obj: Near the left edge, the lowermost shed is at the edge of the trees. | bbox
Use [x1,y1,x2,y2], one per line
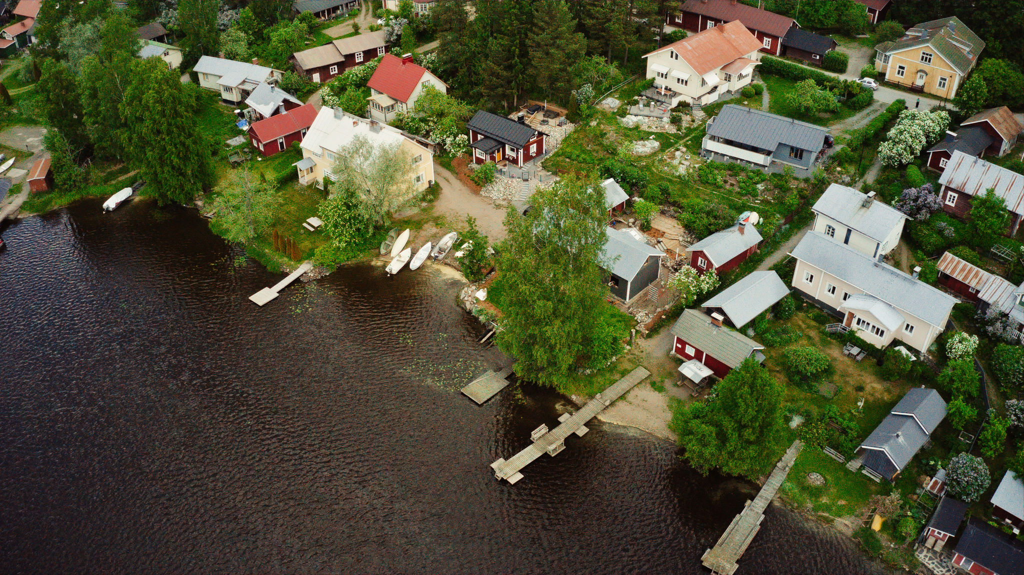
[26,158,54,193]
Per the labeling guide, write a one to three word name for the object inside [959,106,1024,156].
barn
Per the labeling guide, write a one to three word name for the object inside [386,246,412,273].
boat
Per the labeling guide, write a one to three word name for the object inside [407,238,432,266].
boat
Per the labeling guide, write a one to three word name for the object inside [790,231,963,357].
house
